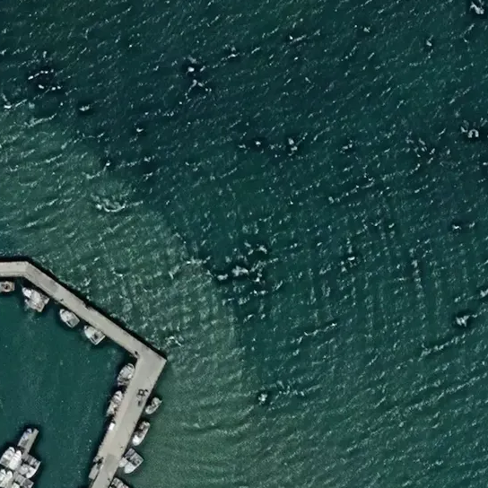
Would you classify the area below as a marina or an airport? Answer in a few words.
marina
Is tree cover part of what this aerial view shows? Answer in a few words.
No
